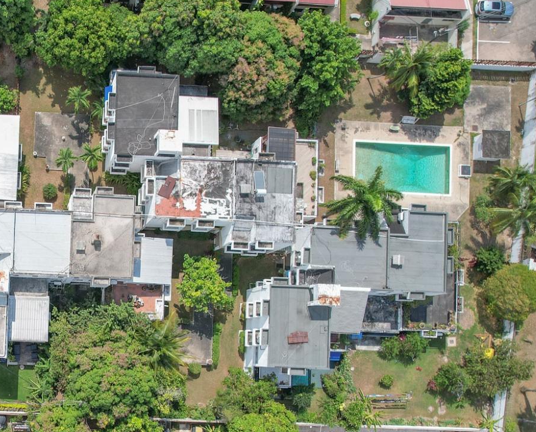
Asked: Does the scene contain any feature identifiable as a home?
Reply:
Yes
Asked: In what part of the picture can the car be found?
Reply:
top right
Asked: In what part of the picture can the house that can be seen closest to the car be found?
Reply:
top right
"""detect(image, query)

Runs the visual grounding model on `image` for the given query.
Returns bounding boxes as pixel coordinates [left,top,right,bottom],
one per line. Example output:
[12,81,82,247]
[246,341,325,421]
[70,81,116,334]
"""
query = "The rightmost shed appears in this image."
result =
[470,131,509,163]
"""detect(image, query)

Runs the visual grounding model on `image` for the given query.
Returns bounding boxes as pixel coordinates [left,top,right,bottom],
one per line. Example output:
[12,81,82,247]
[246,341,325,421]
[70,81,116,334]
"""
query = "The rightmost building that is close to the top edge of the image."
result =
[362,0,471,72]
